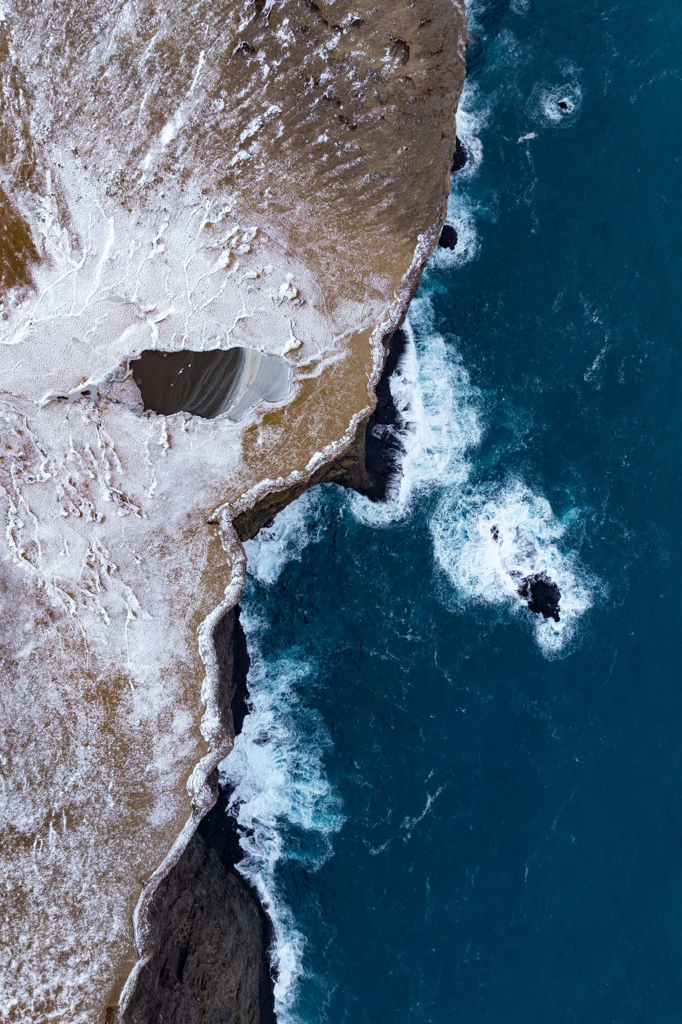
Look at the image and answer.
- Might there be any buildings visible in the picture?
No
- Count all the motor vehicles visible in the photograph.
zero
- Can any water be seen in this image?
Yes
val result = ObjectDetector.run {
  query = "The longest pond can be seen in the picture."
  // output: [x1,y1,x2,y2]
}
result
[130,348,290,420]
